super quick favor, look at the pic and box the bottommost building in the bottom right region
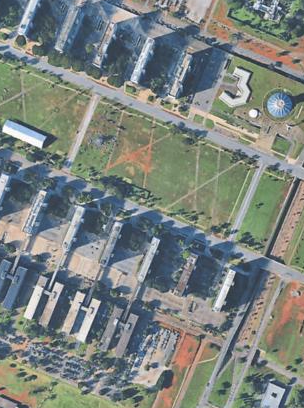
[261,382,286,408]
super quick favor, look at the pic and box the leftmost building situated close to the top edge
[19,0,45,38]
